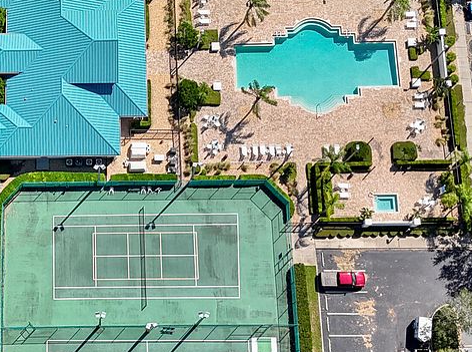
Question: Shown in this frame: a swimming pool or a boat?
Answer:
swimming pool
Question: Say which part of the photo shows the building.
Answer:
top left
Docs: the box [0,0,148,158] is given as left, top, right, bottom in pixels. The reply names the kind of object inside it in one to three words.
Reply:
building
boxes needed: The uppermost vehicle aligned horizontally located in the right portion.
[318,270,365,289]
